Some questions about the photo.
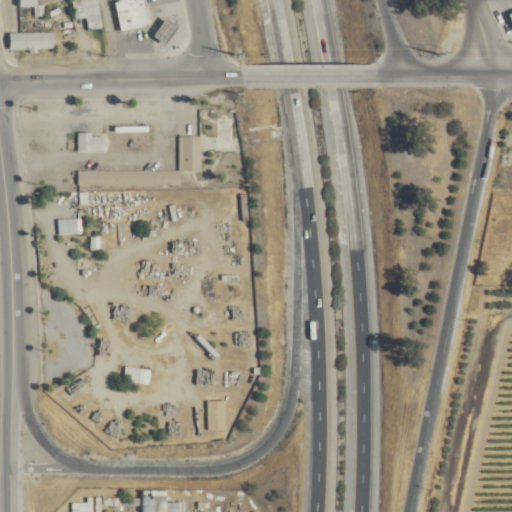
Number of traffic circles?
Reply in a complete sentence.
I count no traffic circles.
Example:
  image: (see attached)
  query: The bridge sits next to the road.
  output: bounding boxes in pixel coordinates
[242,64,378,86]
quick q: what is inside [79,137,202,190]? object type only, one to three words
shed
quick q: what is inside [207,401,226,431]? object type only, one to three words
barn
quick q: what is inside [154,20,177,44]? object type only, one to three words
building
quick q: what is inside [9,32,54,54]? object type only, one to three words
house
